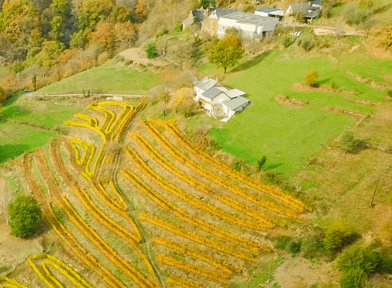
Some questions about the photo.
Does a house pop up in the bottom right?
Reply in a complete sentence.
No, I see no house in the bottom right.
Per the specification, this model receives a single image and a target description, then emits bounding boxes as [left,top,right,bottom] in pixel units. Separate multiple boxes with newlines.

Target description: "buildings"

[196,77,251,123]
[178,6,209,32]
[216,12,279,40]
[279,0,319,27]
